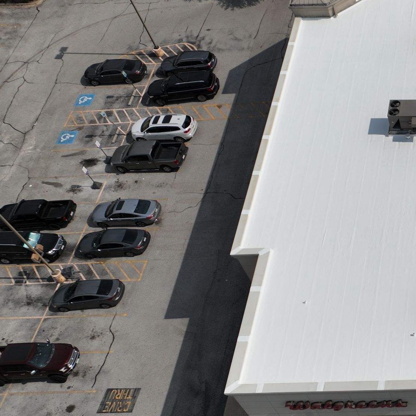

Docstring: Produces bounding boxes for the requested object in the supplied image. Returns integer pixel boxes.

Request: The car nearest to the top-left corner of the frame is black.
[79,59,144,85]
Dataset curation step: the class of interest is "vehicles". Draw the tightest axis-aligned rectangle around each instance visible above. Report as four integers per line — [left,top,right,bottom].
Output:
[159,51,219,78]
[75,225,150,258]
[107,138,193,173]
[79,59,144,85]
[147,71,218,104]
[131,111,200,140]
[0,342,84,384]
[0,194,83,229]
[46,276,126,310]
[87,196,160,226]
